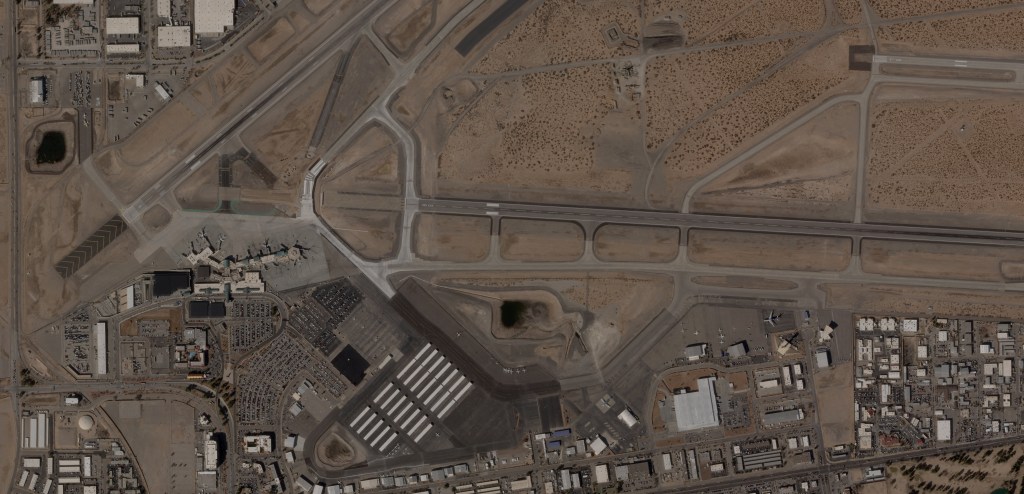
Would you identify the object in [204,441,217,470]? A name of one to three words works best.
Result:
building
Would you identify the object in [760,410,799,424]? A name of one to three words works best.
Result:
building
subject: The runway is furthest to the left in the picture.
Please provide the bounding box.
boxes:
[122,0,398,222]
